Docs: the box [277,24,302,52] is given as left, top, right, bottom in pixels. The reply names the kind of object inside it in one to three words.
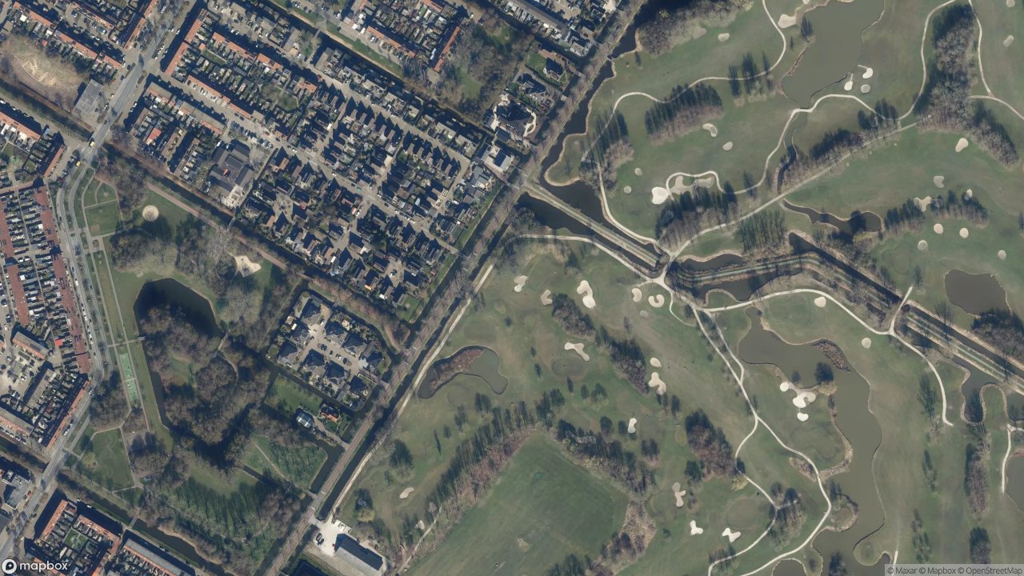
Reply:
house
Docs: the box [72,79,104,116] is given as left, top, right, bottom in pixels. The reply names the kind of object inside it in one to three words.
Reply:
building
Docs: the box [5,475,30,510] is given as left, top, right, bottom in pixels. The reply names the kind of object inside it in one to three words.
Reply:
building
